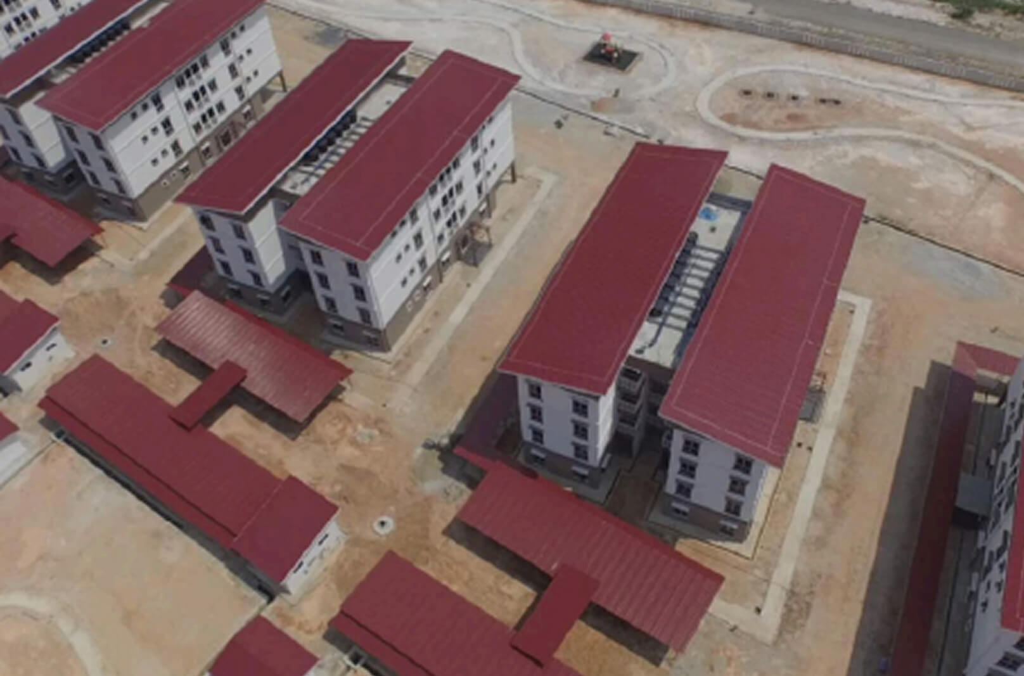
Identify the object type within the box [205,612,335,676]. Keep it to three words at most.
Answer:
house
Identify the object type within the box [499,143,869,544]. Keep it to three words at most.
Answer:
building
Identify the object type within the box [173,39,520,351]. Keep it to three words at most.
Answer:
building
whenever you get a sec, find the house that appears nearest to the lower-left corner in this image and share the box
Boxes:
[0,416,41,485]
